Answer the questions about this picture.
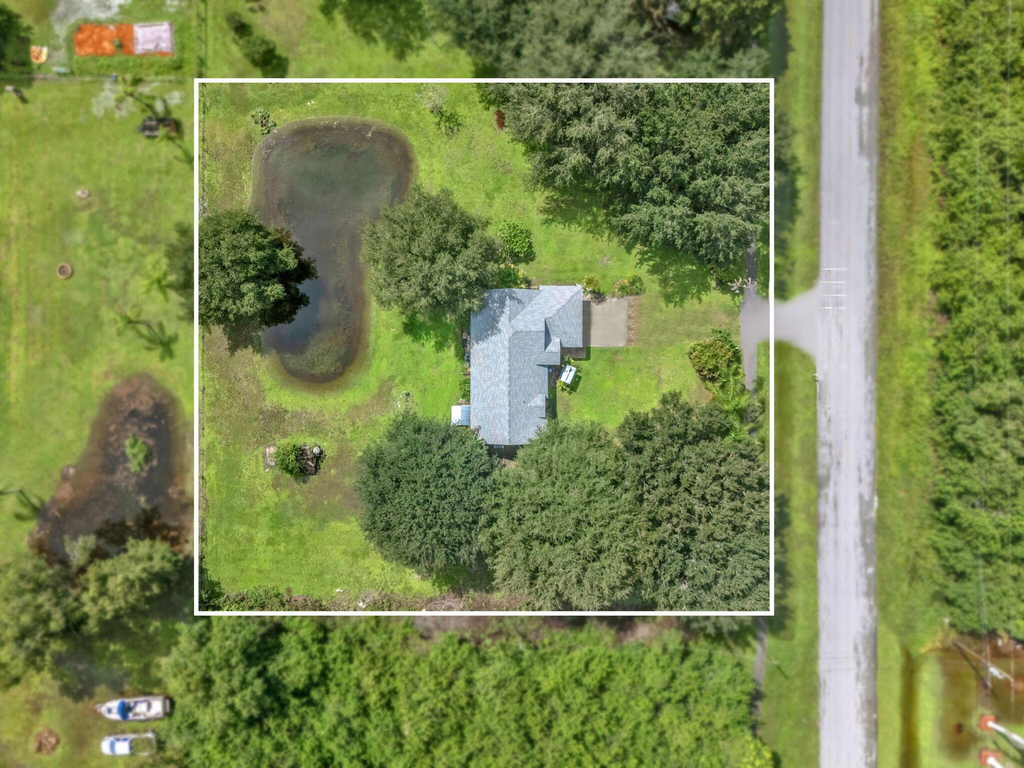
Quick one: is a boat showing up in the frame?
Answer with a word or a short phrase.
Yes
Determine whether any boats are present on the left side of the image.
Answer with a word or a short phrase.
Yes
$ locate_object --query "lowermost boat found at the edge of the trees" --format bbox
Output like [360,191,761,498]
[101,730,158,755]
